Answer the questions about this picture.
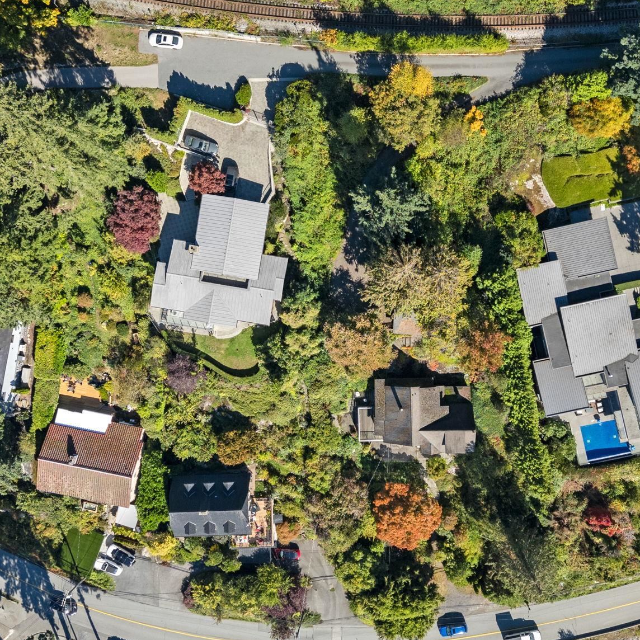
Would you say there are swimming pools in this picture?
Yes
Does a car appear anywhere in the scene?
Yes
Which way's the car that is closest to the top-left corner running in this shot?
horizontally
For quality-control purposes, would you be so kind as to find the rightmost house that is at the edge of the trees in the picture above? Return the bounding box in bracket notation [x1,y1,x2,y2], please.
[516,216,640,442]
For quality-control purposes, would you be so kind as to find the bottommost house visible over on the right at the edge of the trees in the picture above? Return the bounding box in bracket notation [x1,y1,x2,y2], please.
[375,377,476,455]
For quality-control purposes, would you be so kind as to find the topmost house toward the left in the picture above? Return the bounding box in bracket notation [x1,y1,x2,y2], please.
[151,194,289,329]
